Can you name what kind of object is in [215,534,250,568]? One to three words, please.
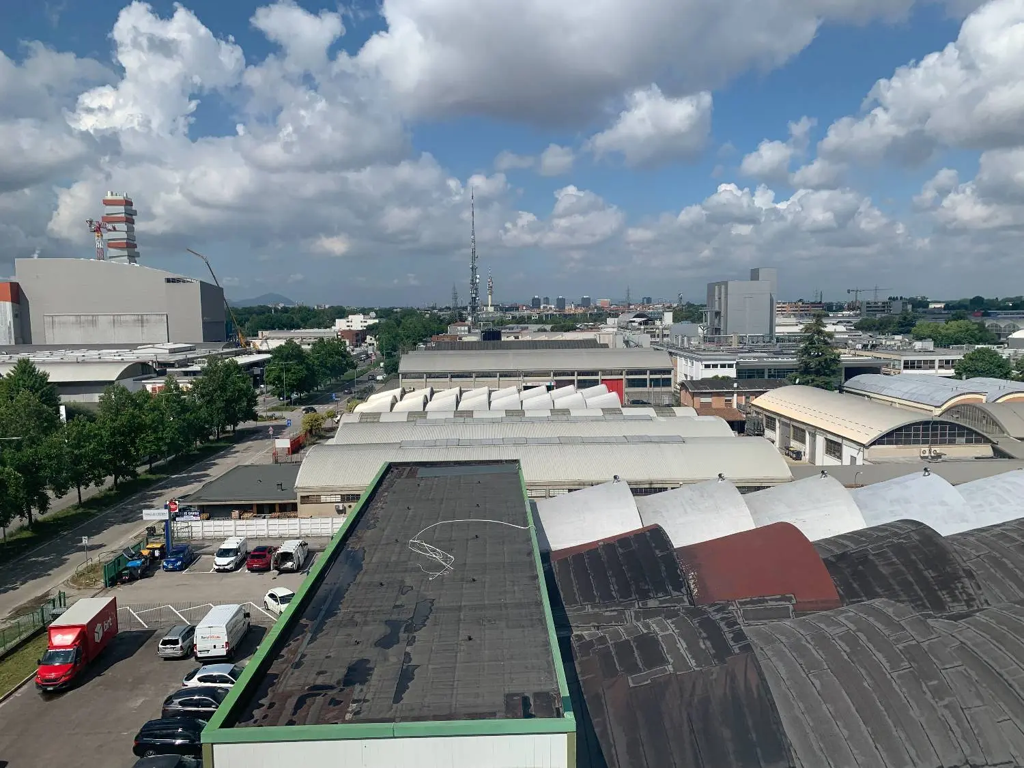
van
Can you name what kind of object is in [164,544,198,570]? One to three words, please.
car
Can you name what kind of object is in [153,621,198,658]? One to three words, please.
car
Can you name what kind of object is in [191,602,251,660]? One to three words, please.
van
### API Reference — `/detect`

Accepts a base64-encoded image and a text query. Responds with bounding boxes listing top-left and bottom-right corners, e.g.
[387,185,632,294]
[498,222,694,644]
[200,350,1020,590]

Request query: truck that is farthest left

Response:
[26,596,118,690]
